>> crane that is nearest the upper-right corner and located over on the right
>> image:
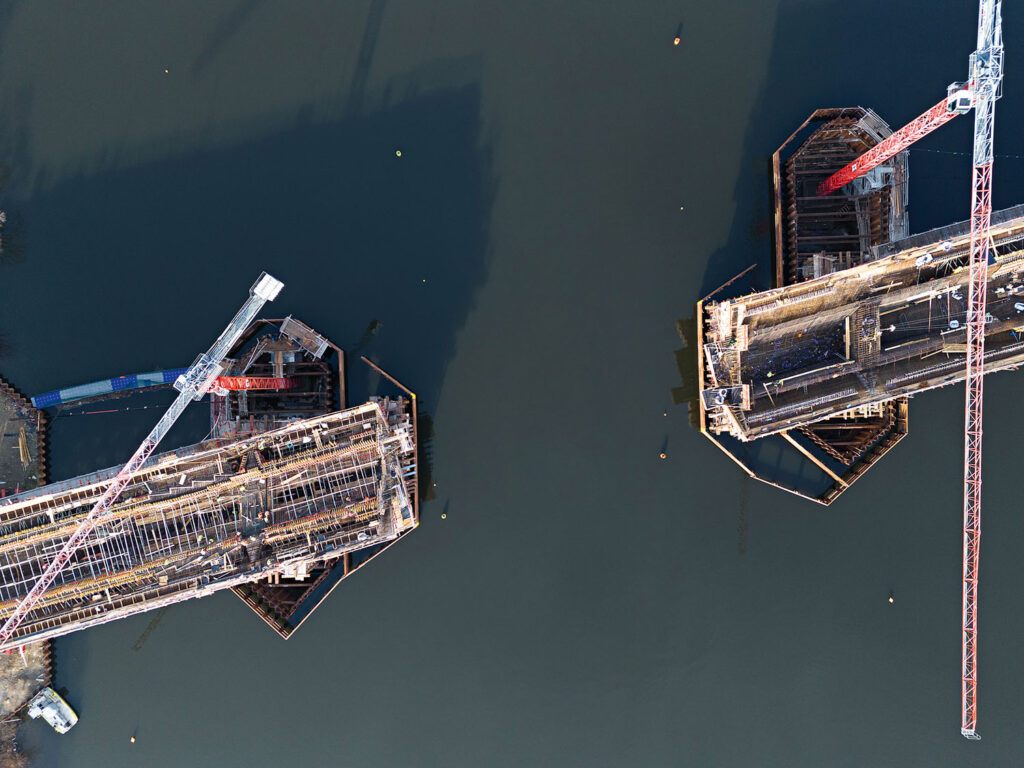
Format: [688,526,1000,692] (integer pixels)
[820,0,1001,745]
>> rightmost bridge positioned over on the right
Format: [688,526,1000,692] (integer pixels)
[702,205,1024,441]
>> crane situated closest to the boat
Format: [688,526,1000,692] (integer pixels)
[0,271,306,658]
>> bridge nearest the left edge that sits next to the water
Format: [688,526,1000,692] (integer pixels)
[0,398,420,653]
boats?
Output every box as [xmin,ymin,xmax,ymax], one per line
[26,683,79,735]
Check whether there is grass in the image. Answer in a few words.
No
